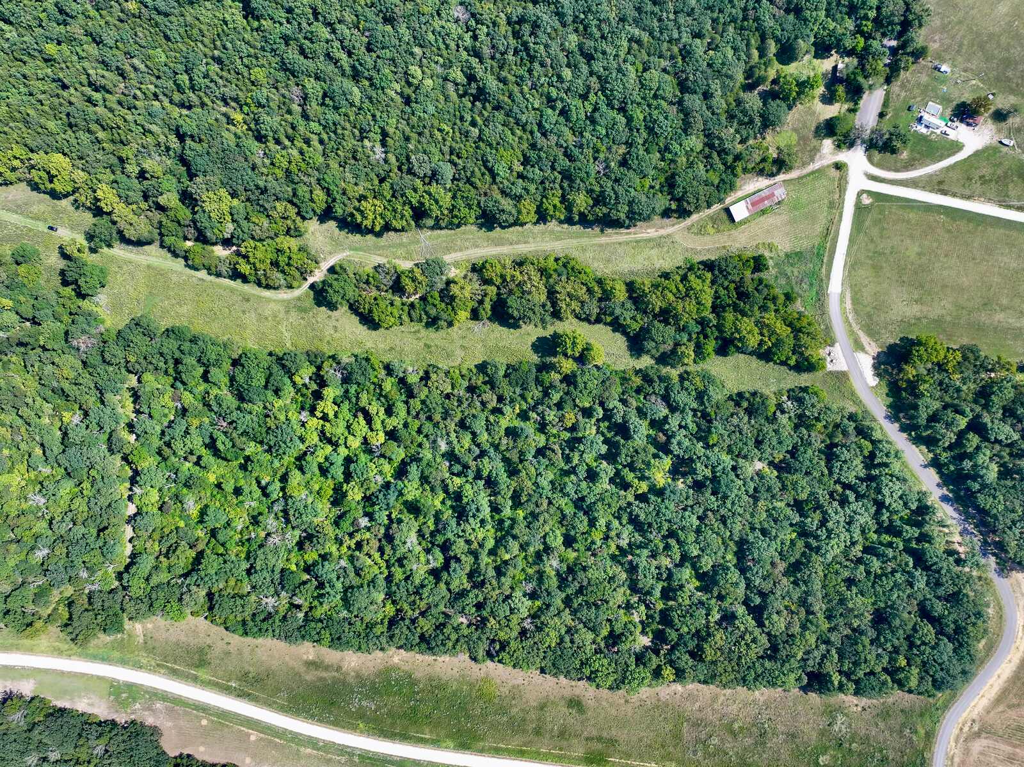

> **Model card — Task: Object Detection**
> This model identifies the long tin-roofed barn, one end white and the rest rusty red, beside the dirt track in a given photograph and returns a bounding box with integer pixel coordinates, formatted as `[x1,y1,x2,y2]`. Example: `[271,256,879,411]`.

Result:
[728,183,786,223]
